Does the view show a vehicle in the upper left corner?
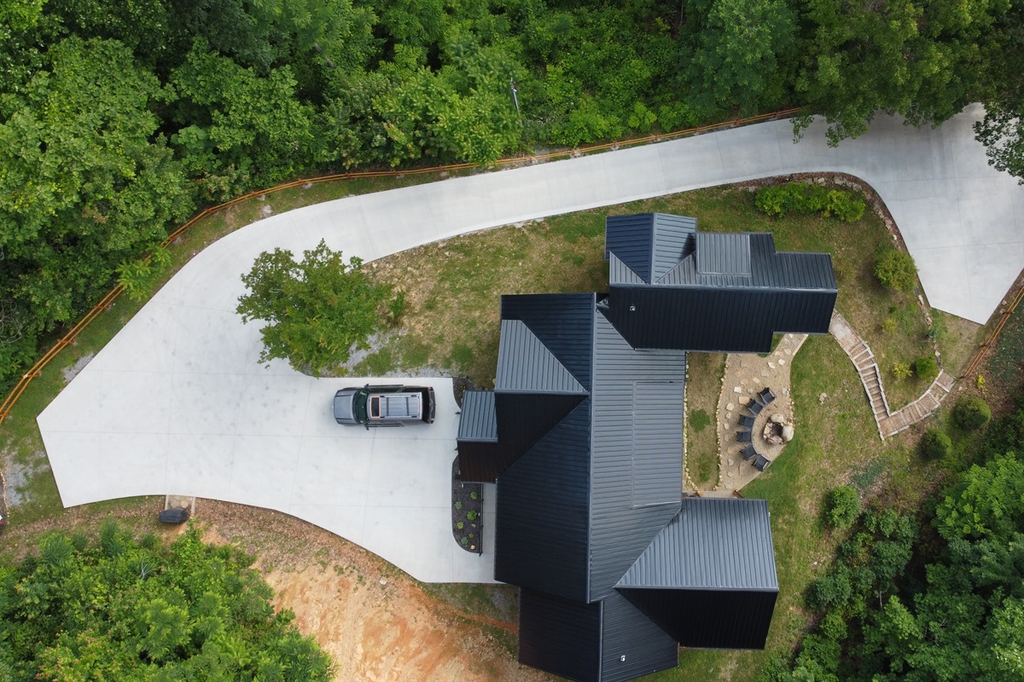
No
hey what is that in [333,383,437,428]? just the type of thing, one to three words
car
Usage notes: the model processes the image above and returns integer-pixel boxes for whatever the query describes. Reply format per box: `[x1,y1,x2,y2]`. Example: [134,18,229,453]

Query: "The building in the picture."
[454,212,839,682]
